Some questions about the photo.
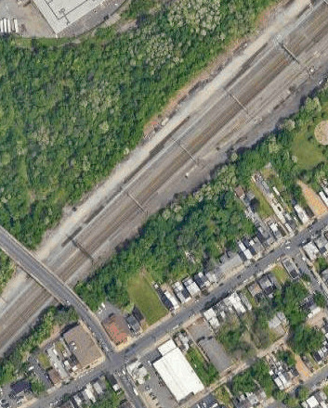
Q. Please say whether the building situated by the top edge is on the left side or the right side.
left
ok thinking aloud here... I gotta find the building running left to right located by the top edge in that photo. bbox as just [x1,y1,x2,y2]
[34,0,109,33]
